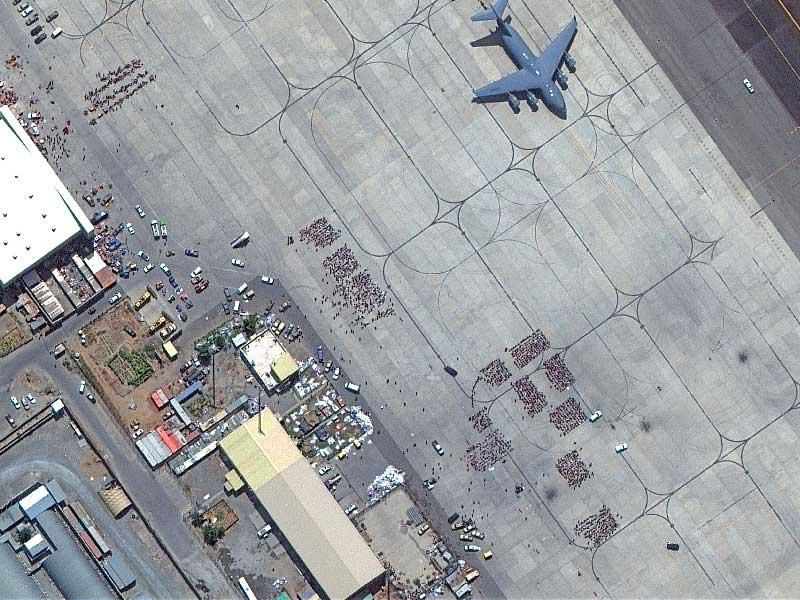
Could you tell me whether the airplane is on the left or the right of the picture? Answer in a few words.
right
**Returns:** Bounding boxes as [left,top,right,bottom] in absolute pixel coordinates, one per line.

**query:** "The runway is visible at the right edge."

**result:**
[710,0,800,130]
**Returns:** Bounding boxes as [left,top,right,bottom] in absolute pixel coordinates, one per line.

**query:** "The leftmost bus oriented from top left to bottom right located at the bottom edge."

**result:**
[238,578,259,600]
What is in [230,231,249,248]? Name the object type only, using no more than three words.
vehicle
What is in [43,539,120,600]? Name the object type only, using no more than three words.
building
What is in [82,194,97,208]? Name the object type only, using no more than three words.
vehicle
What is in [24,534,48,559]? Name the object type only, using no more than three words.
house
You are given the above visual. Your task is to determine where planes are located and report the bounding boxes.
[467,0,578,120]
